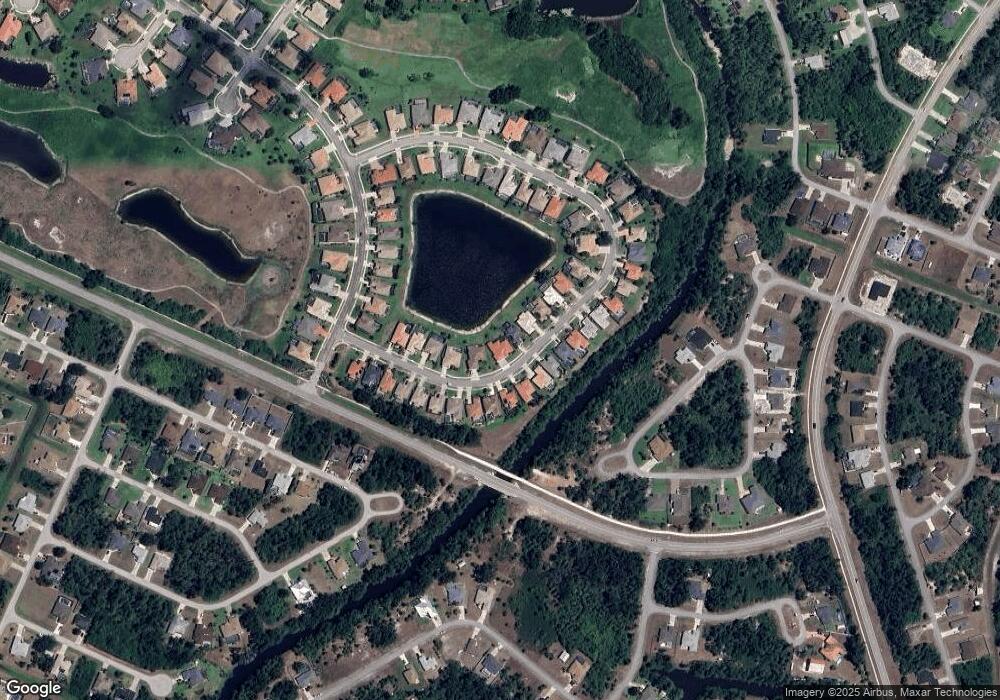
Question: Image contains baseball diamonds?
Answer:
No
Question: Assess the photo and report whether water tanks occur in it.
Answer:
No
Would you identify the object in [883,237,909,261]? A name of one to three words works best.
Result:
house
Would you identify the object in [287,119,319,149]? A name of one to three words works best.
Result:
house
